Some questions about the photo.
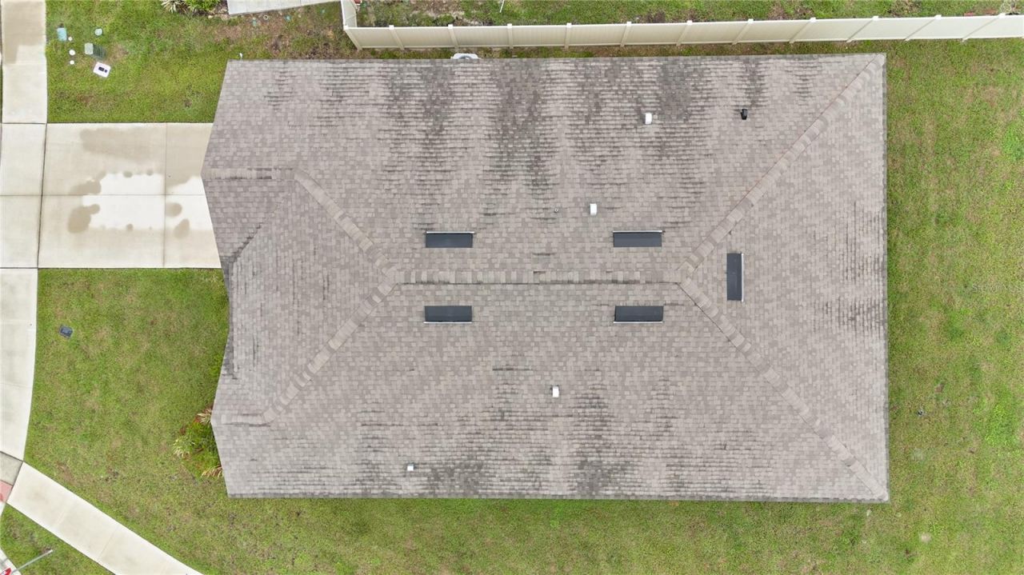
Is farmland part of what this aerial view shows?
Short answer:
No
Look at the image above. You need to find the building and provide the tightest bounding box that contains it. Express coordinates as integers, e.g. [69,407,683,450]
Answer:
[201,53,888,503]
